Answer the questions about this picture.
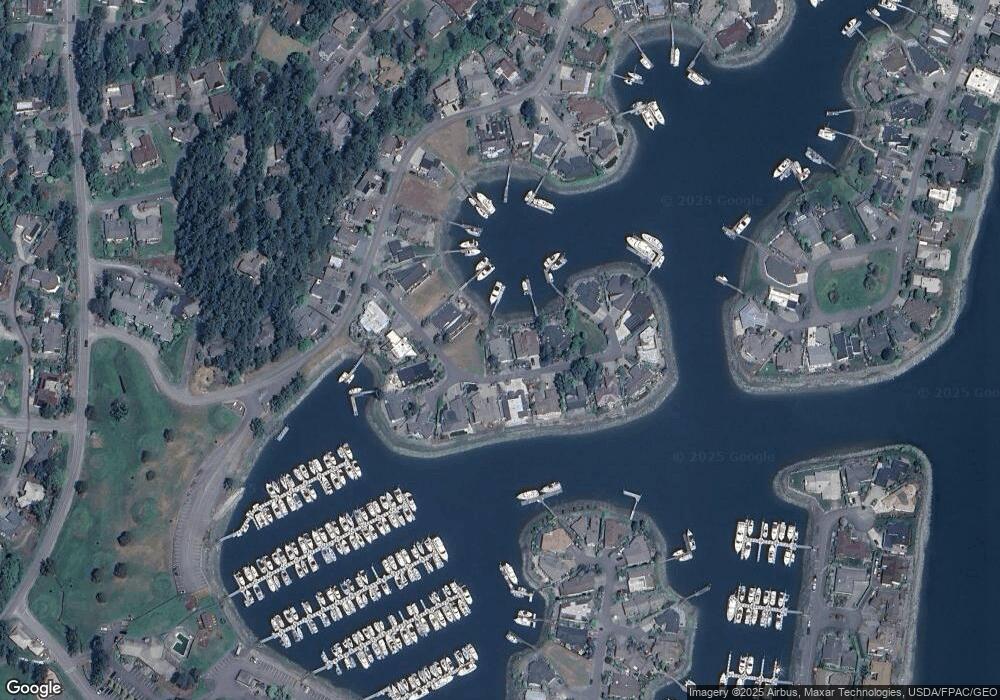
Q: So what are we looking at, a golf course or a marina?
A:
marina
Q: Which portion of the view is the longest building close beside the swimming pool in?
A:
bottom left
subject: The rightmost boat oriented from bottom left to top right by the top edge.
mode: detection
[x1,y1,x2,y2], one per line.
[844,17,857,33]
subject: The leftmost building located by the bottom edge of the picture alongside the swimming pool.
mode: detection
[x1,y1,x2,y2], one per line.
[117,638,177,679]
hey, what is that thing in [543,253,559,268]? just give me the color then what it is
white boat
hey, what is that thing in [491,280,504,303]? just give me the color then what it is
white boat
